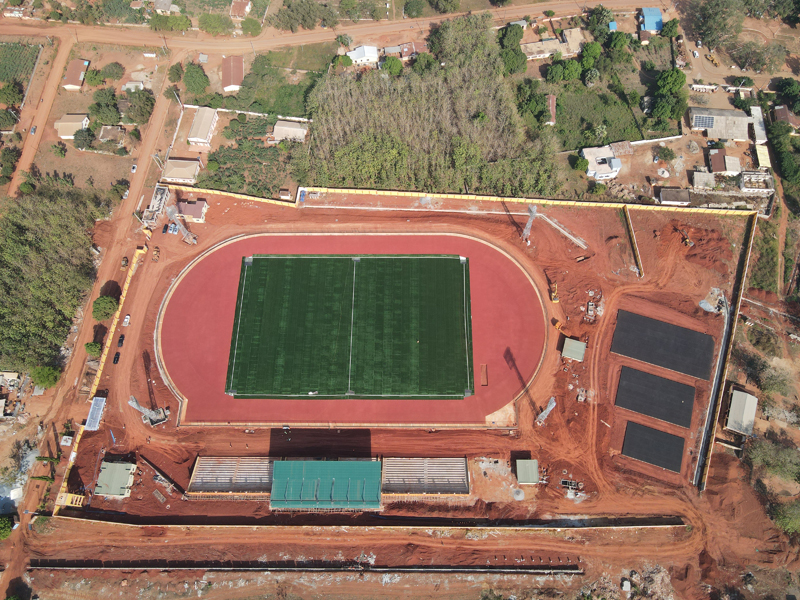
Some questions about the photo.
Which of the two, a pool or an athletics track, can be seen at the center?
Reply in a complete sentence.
Visible at the center is an athletics track.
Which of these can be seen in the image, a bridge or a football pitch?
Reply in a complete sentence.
The one in the frame is a football pitch.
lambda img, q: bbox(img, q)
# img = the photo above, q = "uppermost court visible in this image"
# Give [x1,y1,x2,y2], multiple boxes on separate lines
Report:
[610,309,714,381]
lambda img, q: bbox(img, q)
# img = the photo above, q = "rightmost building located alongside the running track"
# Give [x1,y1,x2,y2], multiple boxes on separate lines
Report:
[561,338,587,365]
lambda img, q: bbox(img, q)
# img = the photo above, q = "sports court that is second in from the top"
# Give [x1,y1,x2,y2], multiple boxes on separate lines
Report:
[615,366,695,429]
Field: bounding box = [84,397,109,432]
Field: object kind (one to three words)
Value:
building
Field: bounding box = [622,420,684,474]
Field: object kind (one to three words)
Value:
sports court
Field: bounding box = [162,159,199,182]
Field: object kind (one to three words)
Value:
house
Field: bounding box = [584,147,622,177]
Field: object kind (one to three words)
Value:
house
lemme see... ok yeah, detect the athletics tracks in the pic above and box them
[152,230,554,433]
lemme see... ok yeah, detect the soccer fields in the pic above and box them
[225,253,474,401]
